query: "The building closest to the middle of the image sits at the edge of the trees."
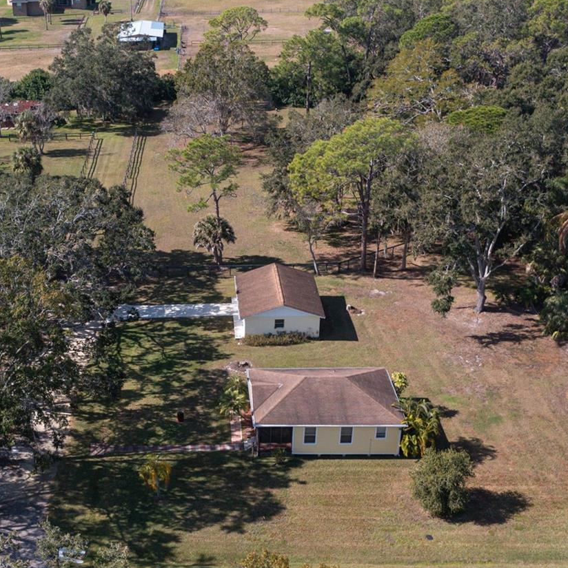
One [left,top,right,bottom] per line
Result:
[234,263,324,340]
